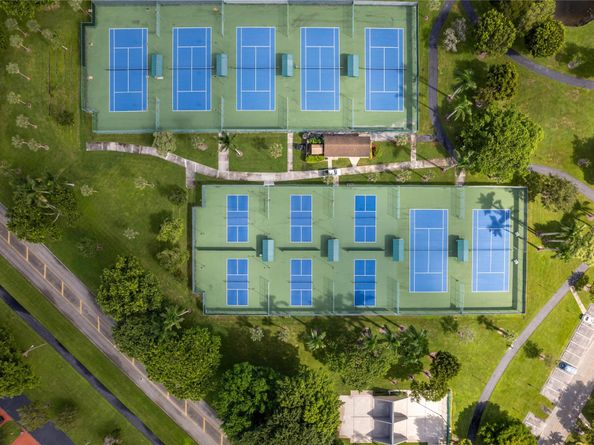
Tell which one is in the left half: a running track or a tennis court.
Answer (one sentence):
You can see a tennis court in the left half.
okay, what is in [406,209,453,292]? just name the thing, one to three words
tennis court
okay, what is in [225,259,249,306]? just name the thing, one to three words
sports court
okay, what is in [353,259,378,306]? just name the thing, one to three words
sports court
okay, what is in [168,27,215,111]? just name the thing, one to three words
tennis court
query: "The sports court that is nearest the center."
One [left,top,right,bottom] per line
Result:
[291,196,312,243]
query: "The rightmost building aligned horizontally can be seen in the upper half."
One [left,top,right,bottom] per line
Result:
[324,136,372,160]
